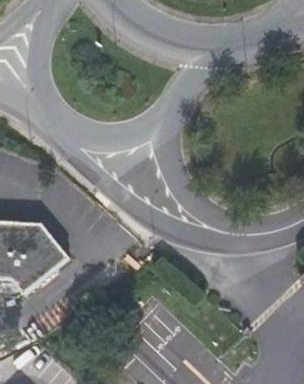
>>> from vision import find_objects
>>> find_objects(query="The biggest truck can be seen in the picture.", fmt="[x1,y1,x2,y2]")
[12,344,40,369]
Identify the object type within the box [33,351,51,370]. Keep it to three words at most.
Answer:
car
